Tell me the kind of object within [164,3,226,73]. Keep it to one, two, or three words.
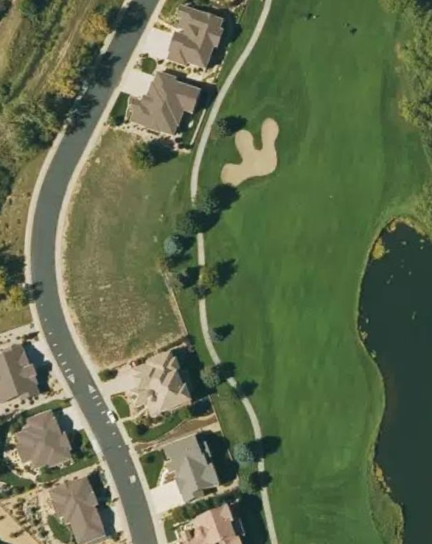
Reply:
house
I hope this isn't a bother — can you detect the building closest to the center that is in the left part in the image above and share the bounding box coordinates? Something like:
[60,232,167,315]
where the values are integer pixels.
[128,356,194,420]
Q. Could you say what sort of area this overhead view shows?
golf course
